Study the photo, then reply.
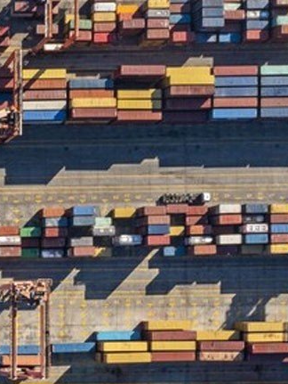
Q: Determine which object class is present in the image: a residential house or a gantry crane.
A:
gantry crane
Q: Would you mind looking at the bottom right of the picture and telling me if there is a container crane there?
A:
No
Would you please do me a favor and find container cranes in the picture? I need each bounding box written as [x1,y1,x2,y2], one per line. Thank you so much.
[0,276,52,381]
[9,0,83,68]
[0,37,27,151]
